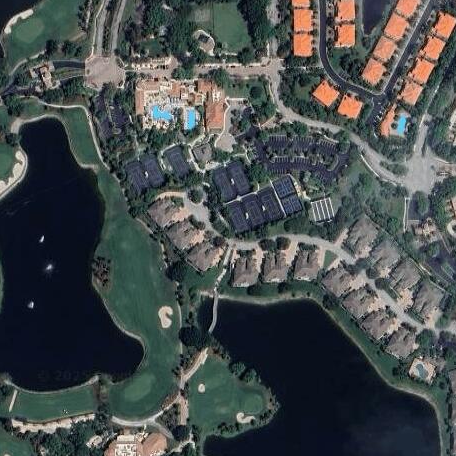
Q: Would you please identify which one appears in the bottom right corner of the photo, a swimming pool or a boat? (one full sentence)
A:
You can see a swimming pool in the bottom right corner of the photo.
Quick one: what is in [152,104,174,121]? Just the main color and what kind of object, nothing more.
blue swimming pool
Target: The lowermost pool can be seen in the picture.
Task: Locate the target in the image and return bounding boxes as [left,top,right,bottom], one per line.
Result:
[409,358,435,383]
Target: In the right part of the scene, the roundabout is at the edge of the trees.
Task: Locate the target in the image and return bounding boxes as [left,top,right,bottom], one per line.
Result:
[395,142,440,194]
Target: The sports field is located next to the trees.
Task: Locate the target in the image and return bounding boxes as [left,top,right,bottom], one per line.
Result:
[213,0,251,53]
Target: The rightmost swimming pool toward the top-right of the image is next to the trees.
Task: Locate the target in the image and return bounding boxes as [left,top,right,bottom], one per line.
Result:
[393,112,412,137]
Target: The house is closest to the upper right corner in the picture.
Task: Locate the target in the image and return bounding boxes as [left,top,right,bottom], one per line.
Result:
[435,11,456,37]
